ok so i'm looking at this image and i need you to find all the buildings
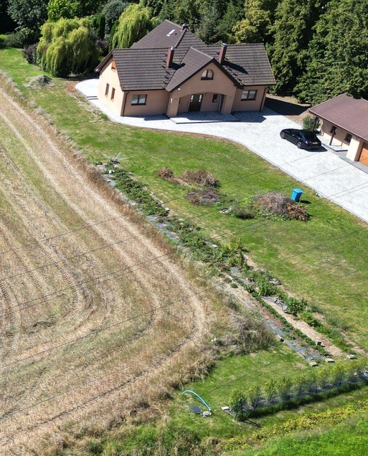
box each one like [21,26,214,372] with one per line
[85,16,275,120]
[309,92,368,166]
